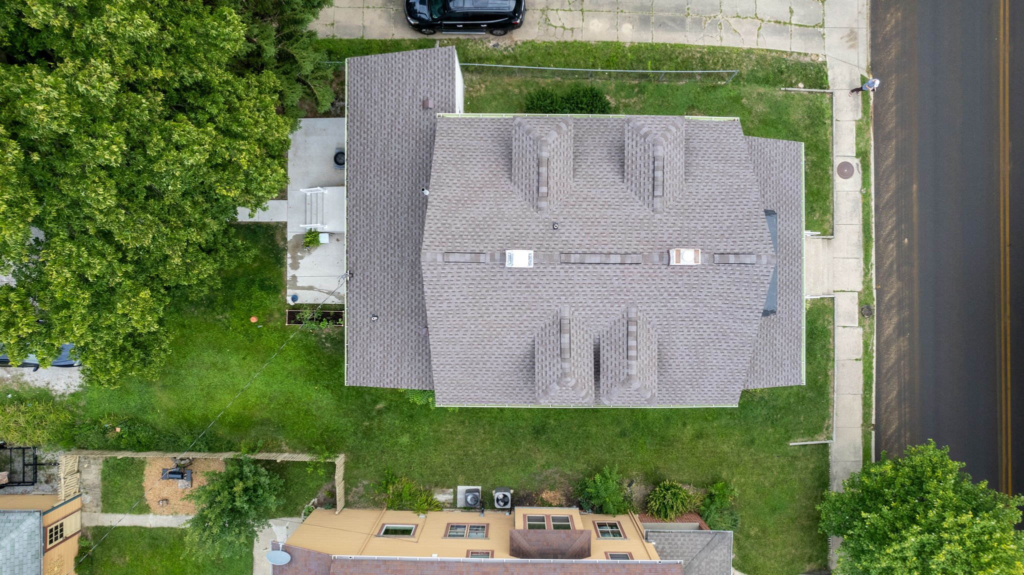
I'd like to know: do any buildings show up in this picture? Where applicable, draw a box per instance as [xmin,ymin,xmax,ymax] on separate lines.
[343,46,807,407]
[269,502,734,575]
[0,494,82,575]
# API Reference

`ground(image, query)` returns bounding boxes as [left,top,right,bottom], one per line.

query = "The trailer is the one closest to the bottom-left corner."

[0,441,58,487]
